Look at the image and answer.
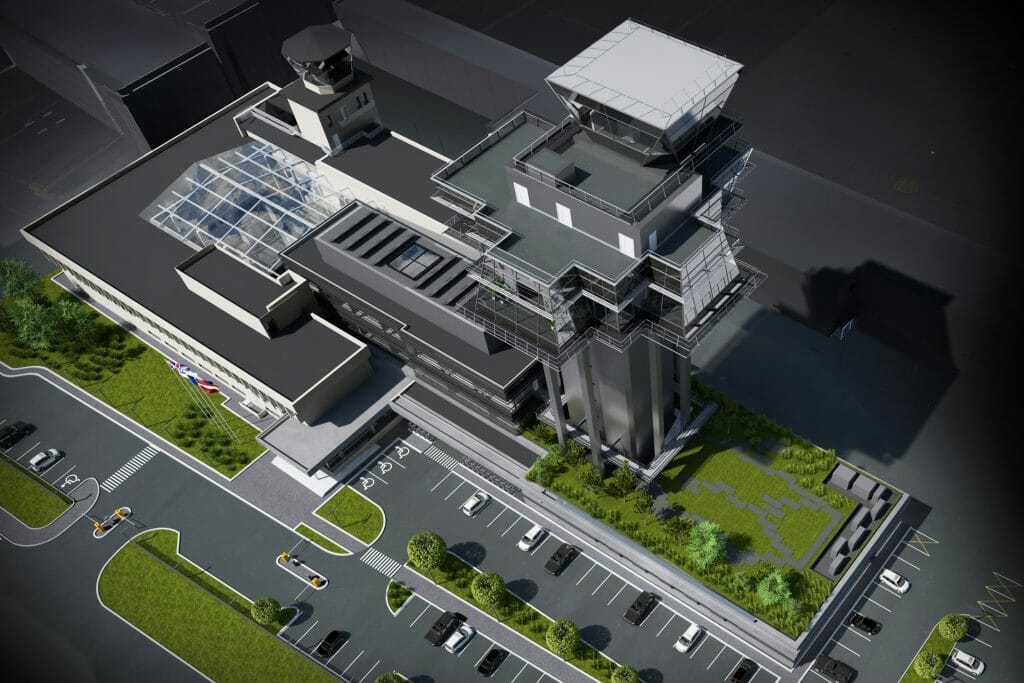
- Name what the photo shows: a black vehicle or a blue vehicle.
black vehicle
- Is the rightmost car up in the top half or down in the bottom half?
bottom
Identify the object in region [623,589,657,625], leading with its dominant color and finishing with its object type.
black car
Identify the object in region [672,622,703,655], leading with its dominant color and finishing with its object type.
white car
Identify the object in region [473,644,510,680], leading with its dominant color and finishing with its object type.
black car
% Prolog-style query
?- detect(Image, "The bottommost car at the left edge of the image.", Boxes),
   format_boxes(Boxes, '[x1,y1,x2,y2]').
[27,448,65,474]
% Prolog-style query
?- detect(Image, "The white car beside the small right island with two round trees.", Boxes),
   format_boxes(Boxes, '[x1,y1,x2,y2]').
[948,648,985,676]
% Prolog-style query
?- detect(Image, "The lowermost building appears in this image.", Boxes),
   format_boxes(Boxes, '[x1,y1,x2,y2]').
[387,373,906,668]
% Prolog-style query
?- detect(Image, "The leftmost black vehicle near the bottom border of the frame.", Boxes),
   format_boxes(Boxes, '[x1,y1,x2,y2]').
[309,627,350,662]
